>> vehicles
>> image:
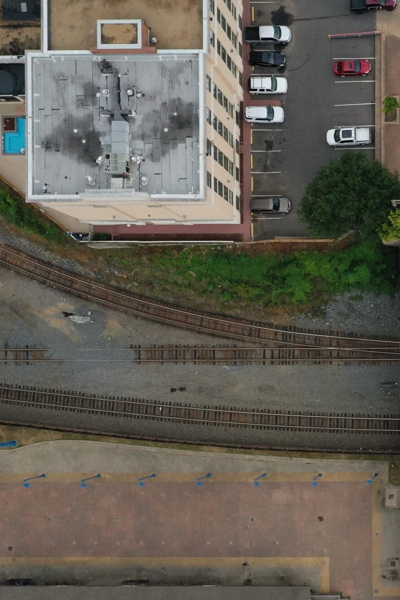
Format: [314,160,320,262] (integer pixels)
[349,0,396,16]
[251,196,292,215]
[245,104,286,124]
[333,58,372,77]
[248,50,287,69]
[248,75,288,95]
[326,125,372,146]
[246,23,293,45]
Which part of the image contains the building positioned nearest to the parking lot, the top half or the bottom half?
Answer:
top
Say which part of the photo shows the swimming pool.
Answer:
top left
